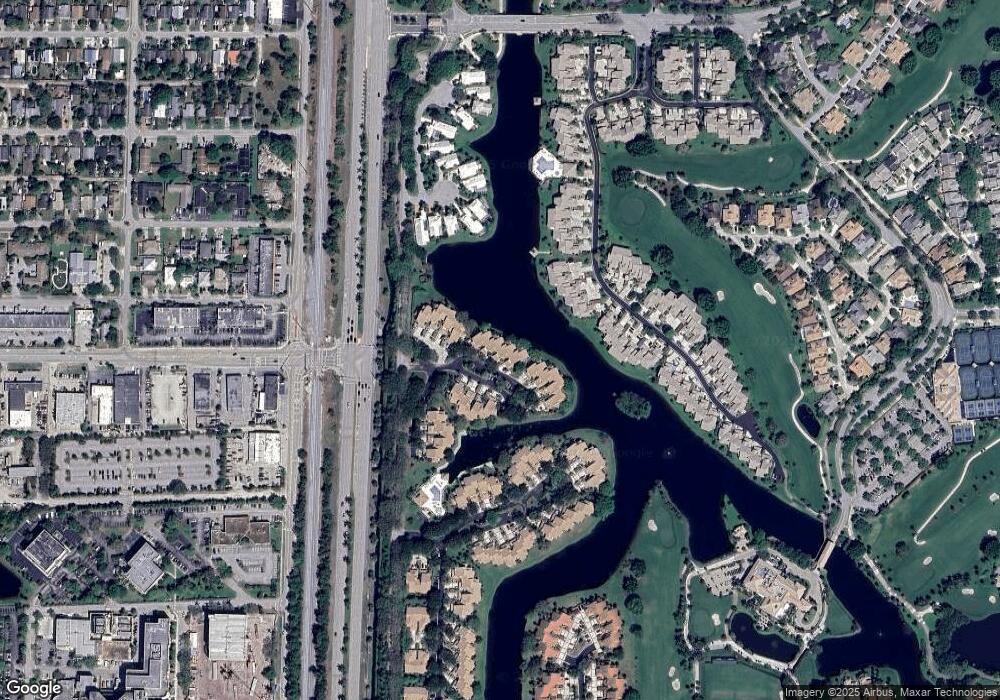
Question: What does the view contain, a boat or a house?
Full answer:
The one in the frame is a house.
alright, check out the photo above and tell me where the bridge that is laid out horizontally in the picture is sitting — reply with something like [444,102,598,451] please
[497,14,541,34]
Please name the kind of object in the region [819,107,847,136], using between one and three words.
house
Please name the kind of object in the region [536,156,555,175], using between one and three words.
swimming pool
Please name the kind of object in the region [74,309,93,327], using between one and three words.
building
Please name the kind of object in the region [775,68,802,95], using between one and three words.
house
